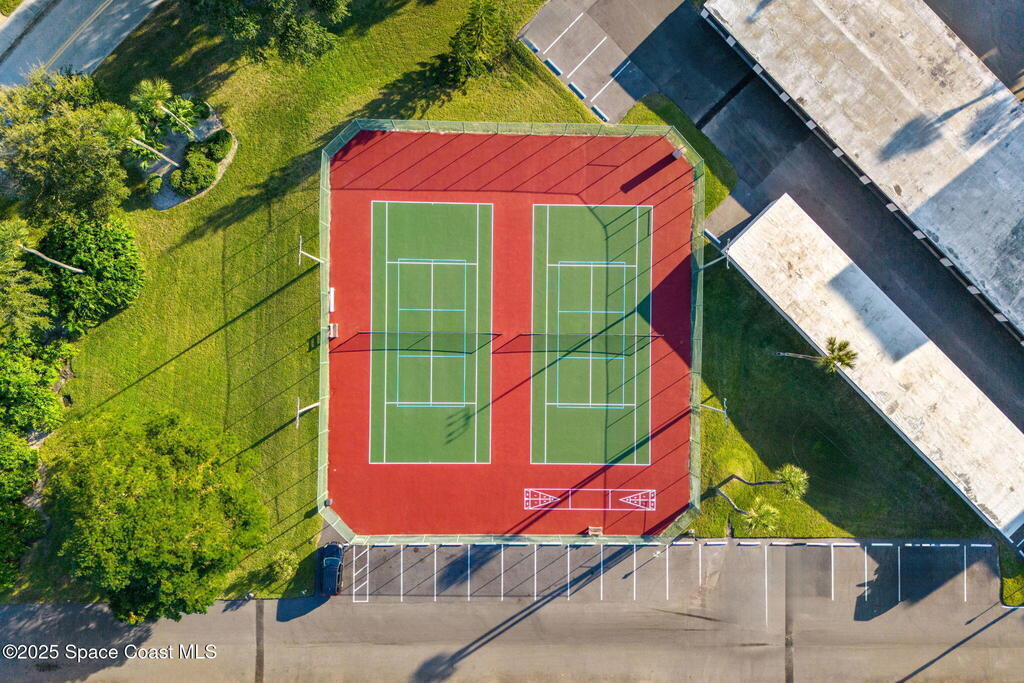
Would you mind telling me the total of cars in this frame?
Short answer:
1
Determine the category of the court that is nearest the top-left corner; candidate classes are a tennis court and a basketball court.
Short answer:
tennis court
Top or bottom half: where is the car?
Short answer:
bottom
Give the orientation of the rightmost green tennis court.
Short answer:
up and down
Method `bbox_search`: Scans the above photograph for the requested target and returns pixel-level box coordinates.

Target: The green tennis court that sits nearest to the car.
[369,201,493,464]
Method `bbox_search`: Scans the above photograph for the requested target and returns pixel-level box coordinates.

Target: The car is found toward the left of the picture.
[317,540,344,599]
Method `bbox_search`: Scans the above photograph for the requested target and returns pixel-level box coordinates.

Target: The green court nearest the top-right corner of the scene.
[531,204,654,466]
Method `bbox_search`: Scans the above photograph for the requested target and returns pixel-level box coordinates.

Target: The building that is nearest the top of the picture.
[699,0,1024,349]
